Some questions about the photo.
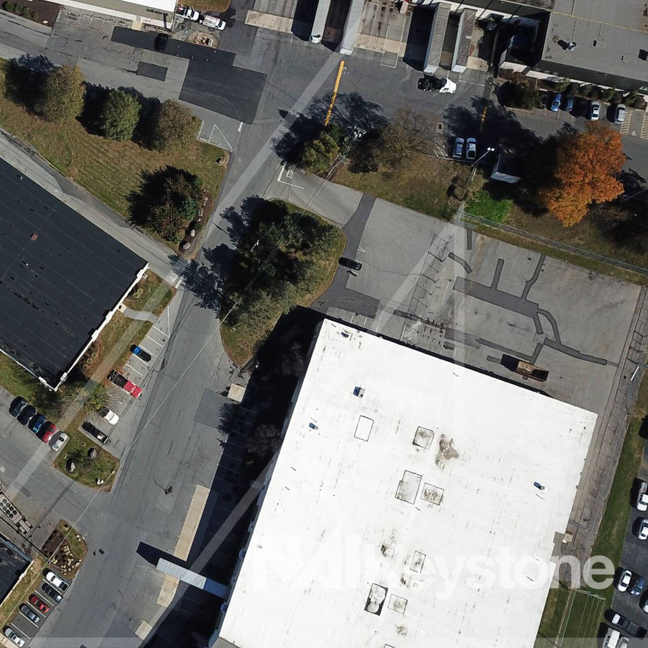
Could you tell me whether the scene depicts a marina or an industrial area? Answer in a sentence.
It's an industrial area.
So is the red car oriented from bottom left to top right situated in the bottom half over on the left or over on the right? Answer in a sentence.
The red car oriented from bottom left to top right situated in the bottom half appears in the left half of the scene.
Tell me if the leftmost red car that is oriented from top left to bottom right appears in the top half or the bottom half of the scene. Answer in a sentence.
The leftmost red car that is oriented from top left to bottom right is in the bottom half of the image.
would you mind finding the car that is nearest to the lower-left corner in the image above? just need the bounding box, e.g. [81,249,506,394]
[4,625,25,647]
